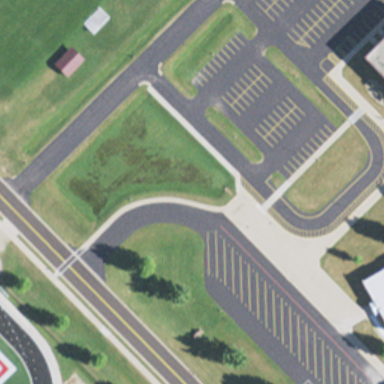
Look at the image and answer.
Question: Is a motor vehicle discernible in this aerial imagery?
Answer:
No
